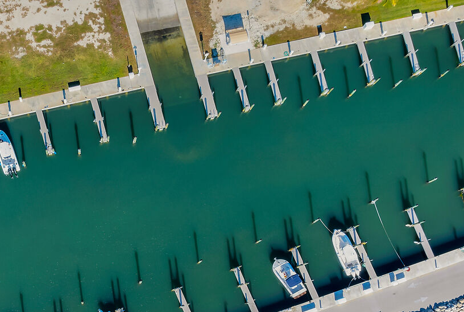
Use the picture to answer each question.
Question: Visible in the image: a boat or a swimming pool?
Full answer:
Visible in the photo is a boat.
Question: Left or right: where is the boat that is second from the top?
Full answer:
It is on the right.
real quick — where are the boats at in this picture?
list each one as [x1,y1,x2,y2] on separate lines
[276,258,304,300]
[0,130,20,175]
[334,228,359,277]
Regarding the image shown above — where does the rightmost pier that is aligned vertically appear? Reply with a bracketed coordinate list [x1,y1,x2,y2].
[448,22,464,68]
